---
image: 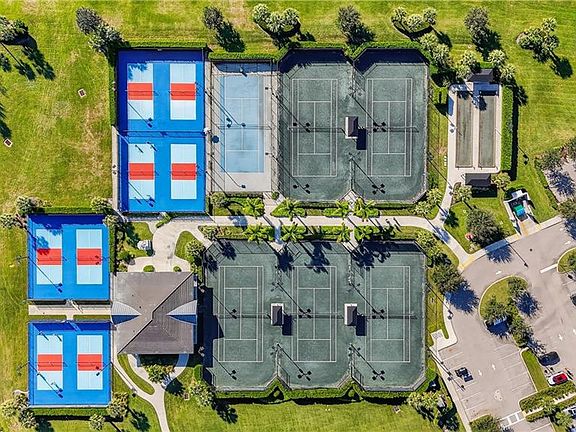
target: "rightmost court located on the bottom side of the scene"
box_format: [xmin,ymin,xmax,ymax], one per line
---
[351,241,424,385]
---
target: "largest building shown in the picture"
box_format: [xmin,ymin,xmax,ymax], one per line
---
[110,272,197,354]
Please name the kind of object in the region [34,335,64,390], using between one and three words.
sports court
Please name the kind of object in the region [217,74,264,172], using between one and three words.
tennis court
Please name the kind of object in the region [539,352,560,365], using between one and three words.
vehicle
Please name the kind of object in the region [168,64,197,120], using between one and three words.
sports court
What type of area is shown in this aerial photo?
sports ground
